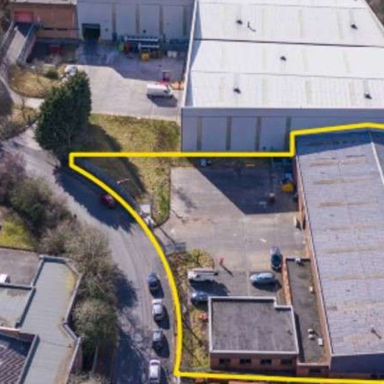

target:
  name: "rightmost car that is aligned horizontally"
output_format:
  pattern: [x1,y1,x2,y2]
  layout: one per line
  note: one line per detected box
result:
[247,270,278,284]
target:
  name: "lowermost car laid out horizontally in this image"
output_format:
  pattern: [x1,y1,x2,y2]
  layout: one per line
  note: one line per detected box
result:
[184,288,215,303]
